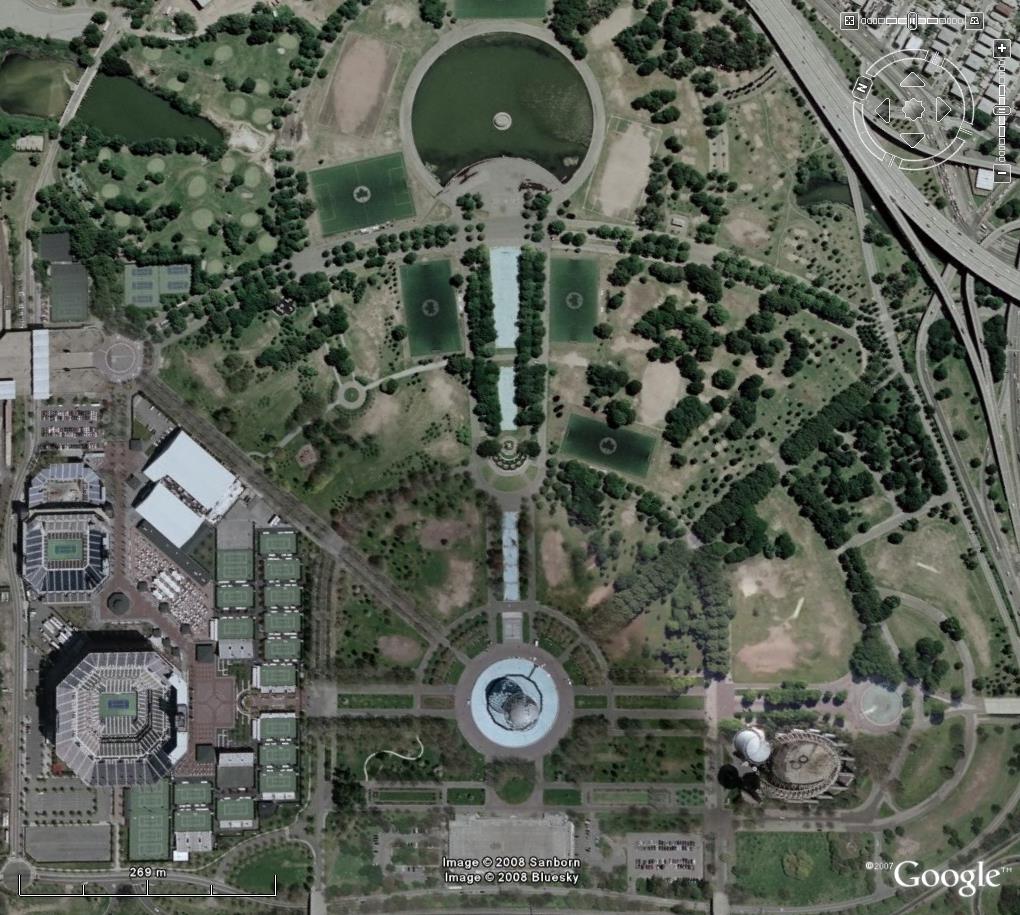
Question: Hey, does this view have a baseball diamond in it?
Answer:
Yes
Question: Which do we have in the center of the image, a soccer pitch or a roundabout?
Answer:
soccer pitch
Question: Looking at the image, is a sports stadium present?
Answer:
Yes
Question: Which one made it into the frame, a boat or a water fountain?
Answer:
water fountain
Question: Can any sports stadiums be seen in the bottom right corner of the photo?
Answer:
No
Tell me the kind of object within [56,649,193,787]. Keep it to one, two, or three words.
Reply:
stadium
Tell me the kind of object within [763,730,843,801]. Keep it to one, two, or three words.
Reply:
building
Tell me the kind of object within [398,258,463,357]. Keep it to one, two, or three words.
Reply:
soccer field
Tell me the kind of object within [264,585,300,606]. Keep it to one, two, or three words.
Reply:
tennis court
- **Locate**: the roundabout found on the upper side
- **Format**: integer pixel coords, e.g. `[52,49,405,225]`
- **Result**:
[96,334,144,382]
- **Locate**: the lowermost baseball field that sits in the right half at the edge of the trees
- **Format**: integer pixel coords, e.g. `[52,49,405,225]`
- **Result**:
[739,597,803,670]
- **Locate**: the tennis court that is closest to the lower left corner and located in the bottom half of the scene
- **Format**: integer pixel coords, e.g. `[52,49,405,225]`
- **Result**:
[128,786,169,861]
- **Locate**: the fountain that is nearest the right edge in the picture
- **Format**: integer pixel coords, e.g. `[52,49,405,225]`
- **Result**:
[861,683,902,724]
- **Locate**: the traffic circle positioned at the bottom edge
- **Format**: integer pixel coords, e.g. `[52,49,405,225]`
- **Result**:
[0,855,36,891]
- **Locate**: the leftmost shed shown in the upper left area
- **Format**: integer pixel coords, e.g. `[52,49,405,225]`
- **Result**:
[14,136,44,150]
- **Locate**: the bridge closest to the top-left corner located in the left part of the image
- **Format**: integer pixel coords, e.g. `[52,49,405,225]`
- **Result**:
[57,50,103,132]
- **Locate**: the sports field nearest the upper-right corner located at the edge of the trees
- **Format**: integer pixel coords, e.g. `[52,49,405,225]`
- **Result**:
[584,115,662,226]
